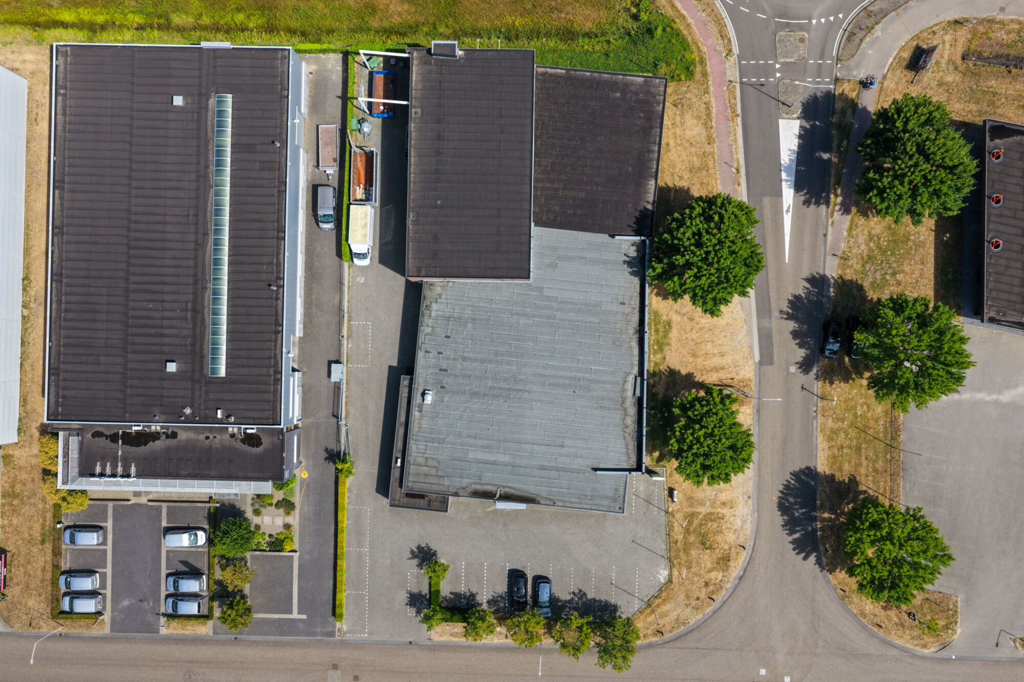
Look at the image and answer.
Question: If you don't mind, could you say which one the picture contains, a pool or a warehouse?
warehouse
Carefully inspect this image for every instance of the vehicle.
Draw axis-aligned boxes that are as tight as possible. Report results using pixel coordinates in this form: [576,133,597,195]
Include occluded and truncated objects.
[509,570,529,613]
[168,572,209,593]
[61,570,103,591]
[820,319,843,360]
[534,575,554,617]
[63,592,105,614]
[166,595,208,616]
[348,204,374,268]
[65,526,107,546]
[163,527,209,548]
[316,185,337,231]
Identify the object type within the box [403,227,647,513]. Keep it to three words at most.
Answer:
building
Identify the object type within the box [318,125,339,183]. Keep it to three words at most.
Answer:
trailer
